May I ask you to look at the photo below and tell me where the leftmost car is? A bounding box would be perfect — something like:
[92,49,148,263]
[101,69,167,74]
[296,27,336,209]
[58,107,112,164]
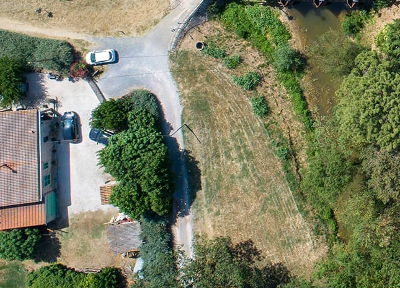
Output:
[59,114,77,143]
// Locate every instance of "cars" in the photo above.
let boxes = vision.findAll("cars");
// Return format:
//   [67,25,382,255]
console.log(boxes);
[59,114,77,143]
[87,130,117,149]
[85,49,115,64]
